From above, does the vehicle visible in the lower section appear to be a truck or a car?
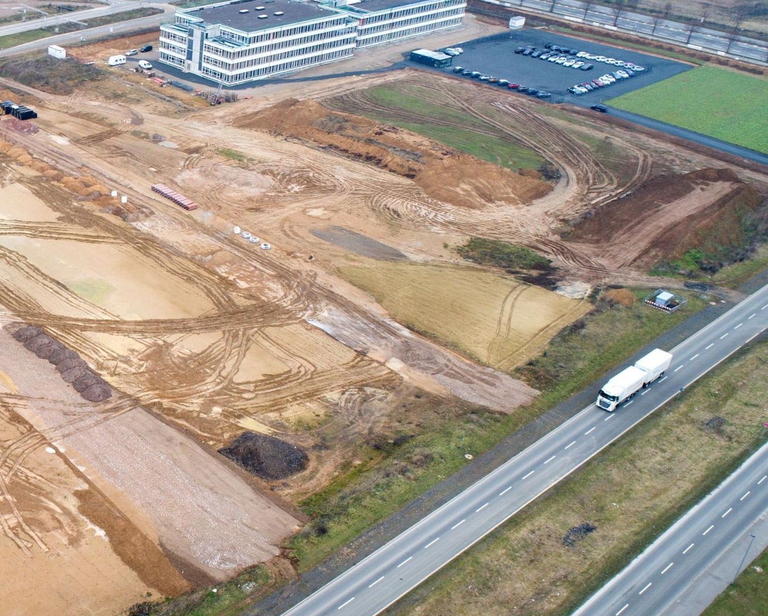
truck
